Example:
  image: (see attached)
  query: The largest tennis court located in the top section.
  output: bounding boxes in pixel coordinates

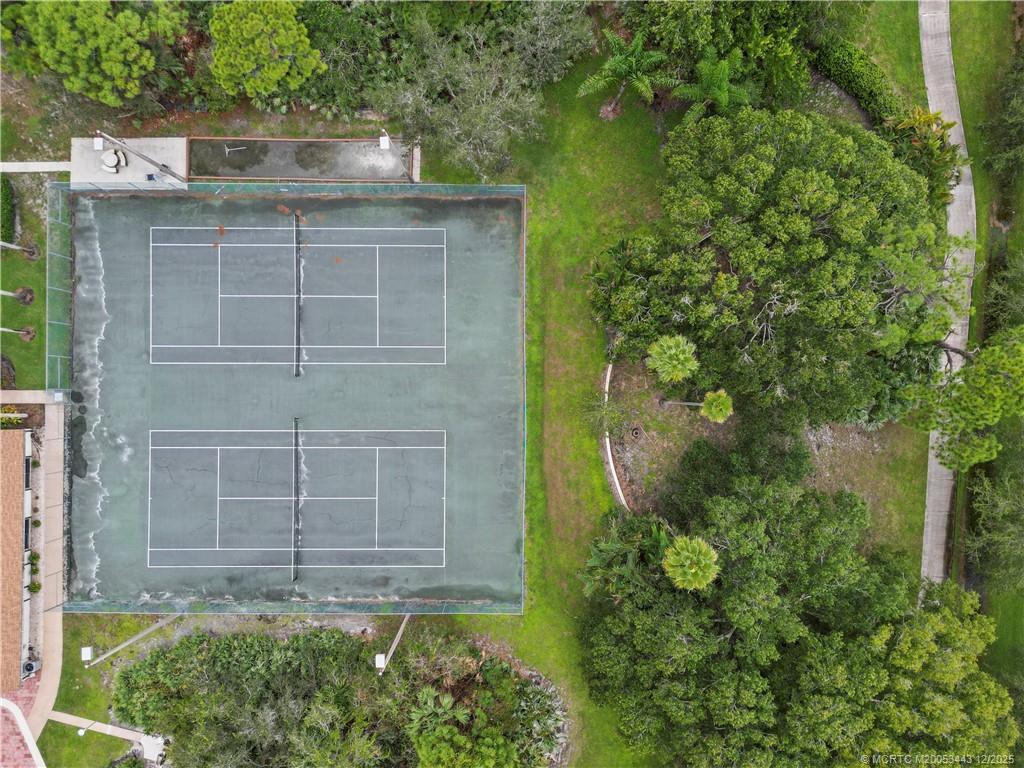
[150,228,445,364]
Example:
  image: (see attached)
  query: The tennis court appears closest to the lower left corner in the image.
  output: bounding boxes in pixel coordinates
[148,431,445,568]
